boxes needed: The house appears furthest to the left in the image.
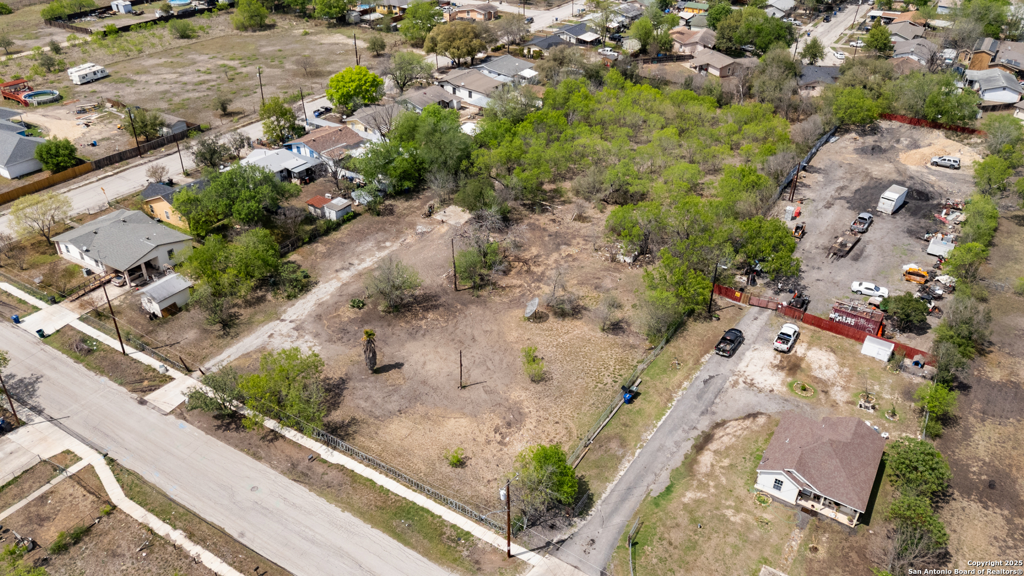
[0,112,47,179]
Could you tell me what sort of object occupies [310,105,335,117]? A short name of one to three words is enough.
vehicle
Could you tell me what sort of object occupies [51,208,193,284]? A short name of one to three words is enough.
house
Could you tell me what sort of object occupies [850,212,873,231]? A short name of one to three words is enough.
vehicle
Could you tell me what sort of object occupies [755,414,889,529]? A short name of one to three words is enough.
house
